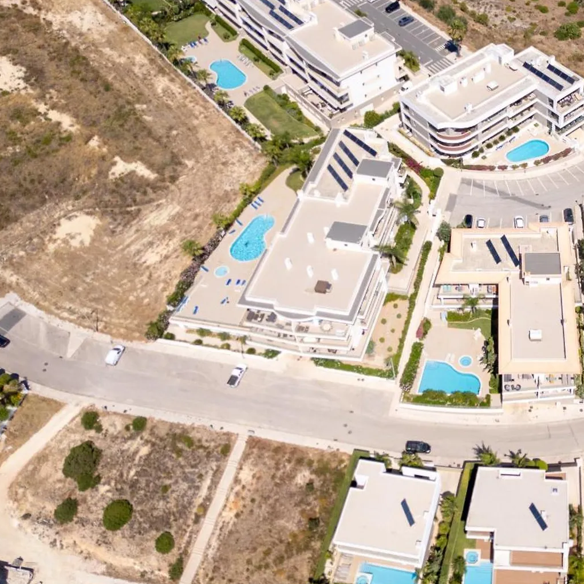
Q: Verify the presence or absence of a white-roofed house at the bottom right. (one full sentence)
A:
Yes, a white-roofed house shows up at the bottom right.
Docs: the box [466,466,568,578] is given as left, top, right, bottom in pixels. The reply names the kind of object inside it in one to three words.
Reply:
house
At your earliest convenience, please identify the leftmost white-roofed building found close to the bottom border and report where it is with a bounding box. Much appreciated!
[334,458,441,576]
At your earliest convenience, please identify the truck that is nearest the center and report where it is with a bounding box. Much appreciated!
[222,362,251,389]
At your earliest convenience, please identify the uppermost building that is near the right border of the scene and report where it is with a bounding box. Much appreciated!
[400,42,584,166]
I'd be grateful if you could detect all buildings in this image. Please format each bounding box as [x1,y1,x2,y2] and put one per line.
[466,466,568,578]
[206,0,406,125]
[400,42,584,166]
[432,223,582,408]
[334,458,441,576]
[238,126,414,366]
